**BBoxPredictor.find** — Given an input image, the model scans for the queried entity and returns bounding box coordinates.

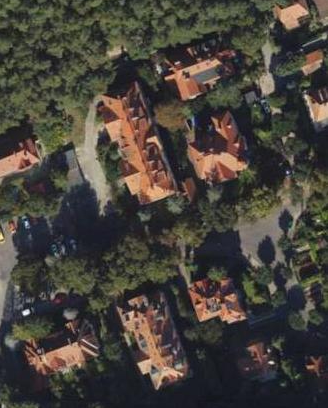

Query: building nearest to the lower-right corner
[299,348,328,383]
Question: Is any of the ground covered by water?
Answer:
No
